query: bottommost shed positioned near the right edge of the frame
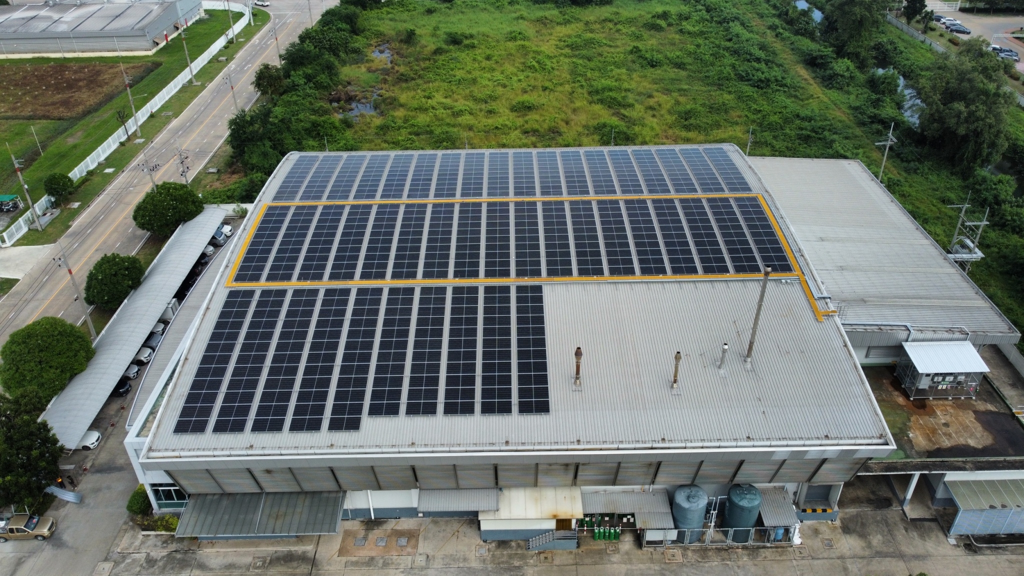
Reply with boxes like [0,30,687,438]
[927,478,1024,543]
